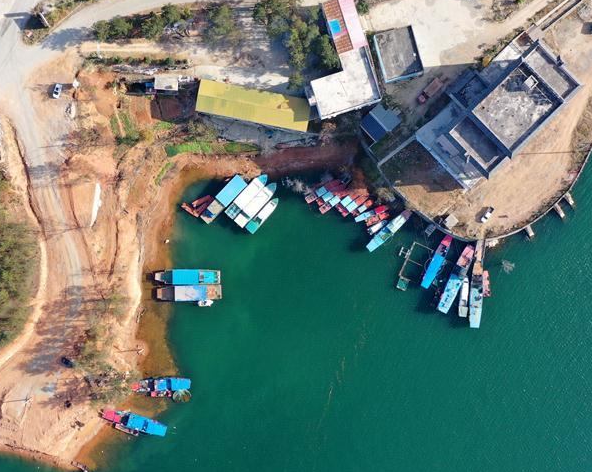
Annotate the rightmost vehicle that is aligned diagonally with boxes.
[480,206,495,224]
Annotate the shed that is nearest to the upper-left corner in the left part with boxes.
[154,76,180,93]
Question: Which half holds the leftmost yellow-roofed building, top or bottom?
top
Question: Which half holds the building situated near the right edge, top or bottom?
top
